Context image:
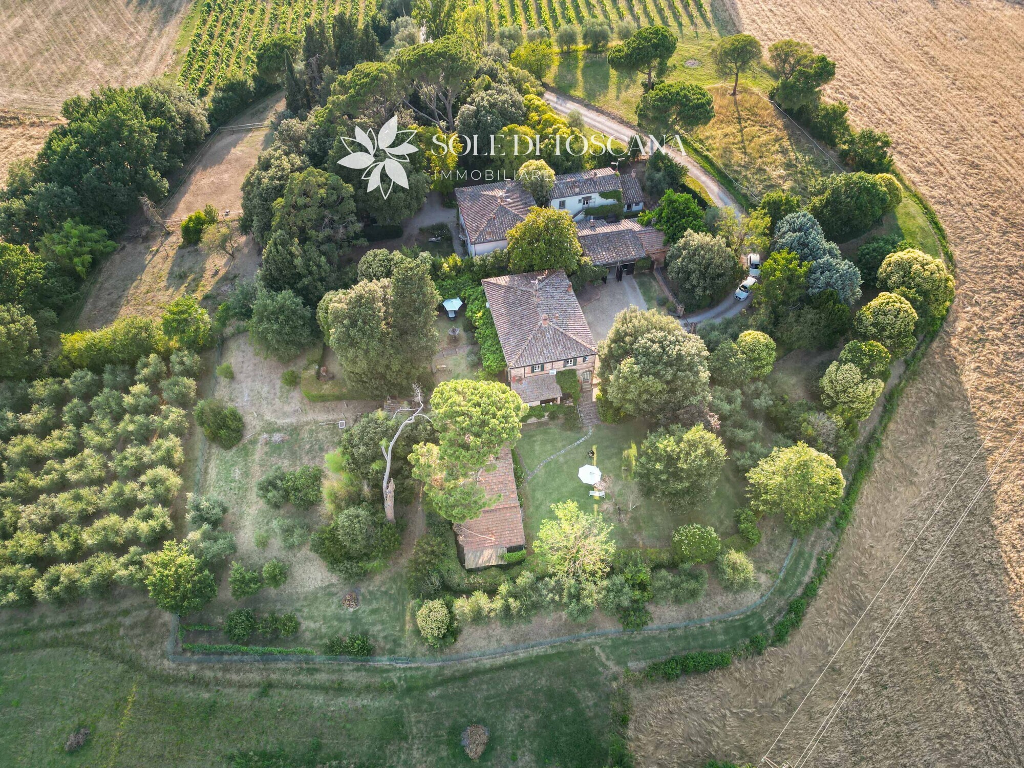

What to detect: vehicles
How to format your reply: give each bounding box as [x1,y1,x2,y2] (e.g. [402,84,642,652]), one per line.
[736,277,755,301]
[746,255,762,279]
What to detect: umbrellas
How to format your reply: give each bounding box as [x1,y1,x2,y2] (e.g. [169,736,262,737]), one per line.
[444,300,462,319]
[577,466,604,488]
